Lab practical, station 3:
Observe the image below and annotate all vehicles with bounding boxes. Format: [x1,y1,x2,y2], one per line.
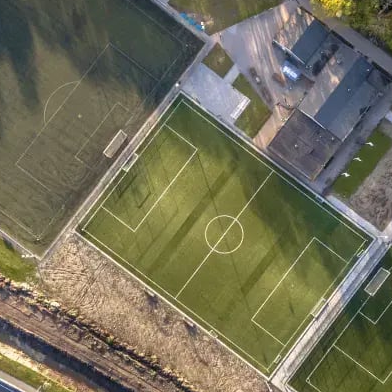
[272,71,286,86]
[281,63,300,80]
